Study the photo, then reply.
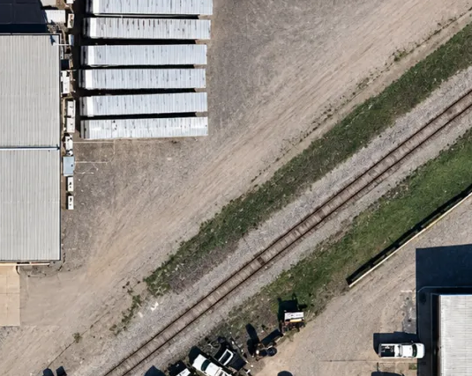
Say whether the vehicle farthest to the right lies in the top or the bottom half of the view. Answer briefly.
bottom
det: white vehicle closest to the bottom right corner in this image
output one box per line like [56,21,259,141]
[378,341,422,361]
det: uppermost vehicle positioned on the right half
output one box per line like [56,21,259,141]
[281,308,300,330]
